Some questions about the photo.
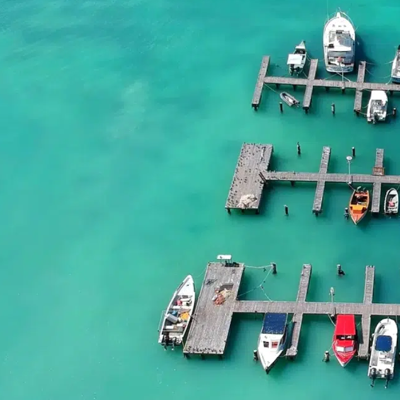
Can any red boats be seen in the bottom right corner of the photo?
Yes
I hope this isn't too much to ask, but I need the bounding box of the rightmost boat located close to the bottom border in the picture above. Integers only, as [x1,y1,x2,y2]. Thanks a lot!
[370,315,400,388]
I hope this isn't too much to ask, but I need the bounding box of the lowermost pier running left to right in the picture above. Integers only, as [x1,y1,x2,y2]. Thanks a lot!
[234,301,400,320]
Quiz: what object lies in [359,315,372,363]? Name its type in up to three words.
pier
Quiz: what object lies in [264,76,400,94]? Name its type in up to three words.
pier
